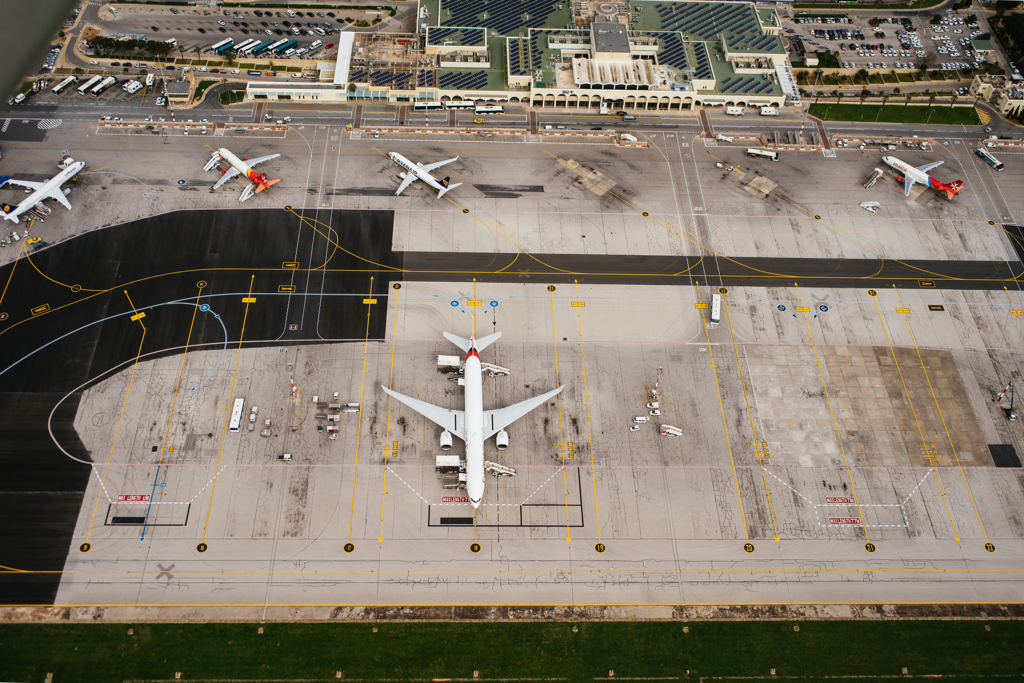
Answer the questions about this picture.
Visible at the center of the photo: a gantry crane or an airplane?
airplane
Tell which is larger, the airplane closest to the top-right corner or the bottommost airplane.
the bottommost airplane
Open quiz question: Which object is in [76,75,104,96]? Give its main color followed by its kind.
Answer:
white bus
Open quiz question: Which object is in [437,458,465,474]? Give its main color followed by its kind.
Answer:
white vehicle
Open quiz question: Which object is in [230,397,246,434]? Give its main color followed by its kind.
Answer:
white vehicle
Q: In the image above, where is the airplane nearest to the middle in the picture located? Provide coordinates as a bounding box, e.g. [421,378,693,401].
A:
[382,319,563,509]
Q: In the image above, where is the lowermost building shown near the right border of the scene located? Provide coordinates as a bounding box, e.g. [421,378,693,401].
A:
[969,74,1024,115]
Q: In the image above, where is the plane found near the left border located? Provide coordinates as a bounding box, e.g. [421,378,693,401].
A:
[0,163,86,225]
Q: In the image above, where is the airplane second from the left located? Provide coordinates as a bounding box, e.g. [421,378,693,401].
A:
[215,149,282,195]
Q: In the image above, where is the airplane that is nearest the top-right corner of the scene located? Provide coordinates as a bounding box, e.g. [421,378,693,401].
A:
[882,158,965,201]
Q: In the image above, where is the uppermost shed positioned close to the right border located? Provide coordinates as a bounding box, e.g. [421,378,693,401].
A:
[971,38,996,54]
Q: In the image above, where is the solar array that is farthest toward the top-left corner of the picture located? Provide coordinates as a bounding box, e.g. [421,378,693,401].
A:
[441,0,559,33]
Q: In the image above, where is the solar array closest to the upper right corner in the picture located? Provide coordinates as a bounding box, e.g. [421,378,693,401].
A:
[658,2,758,38]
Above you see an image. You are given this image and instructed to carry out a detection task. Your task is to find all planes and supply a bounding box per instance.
[0,163,86,225]
[389,152,459,198]
[882,158,965,201]
[215,149,282,195]
[382,319,563,509]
